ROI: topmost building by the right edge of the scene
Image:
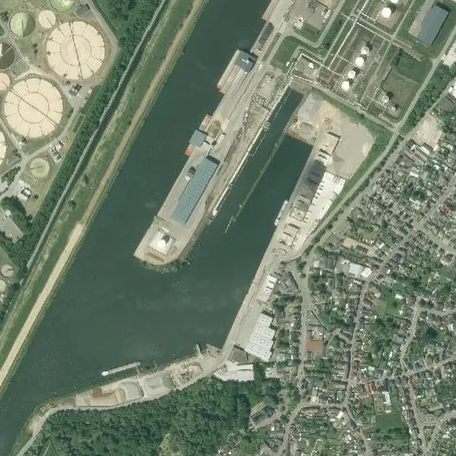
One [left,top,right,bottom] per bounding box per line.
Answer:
[416,4,450,45]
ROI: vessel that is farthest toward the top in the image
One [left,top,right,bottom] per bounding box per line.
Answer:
[263,0,276,20]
